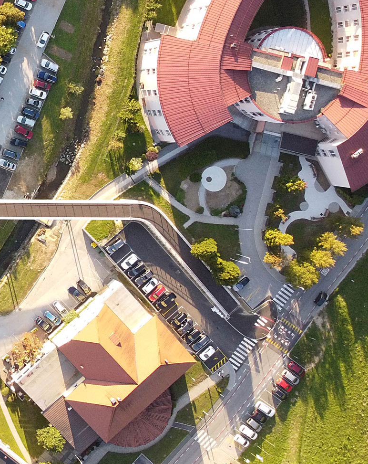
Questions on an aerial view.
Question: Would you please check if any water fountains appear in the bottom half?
No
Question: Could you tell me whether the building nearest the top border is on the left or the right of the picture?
right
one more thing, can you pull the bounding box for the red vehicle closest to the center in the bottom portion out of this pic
[148,284,167,301]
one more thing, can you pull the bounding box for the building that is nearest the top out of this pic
[137,0,368,192]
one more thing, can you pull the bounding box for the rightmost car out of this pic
[312,290,328,308]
